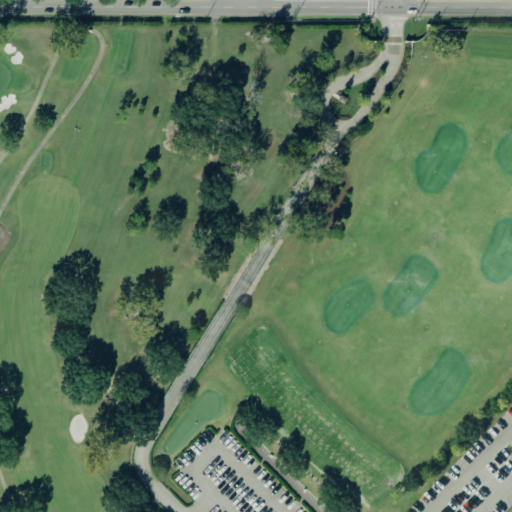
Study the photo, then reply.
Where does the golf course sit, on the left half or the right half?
left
